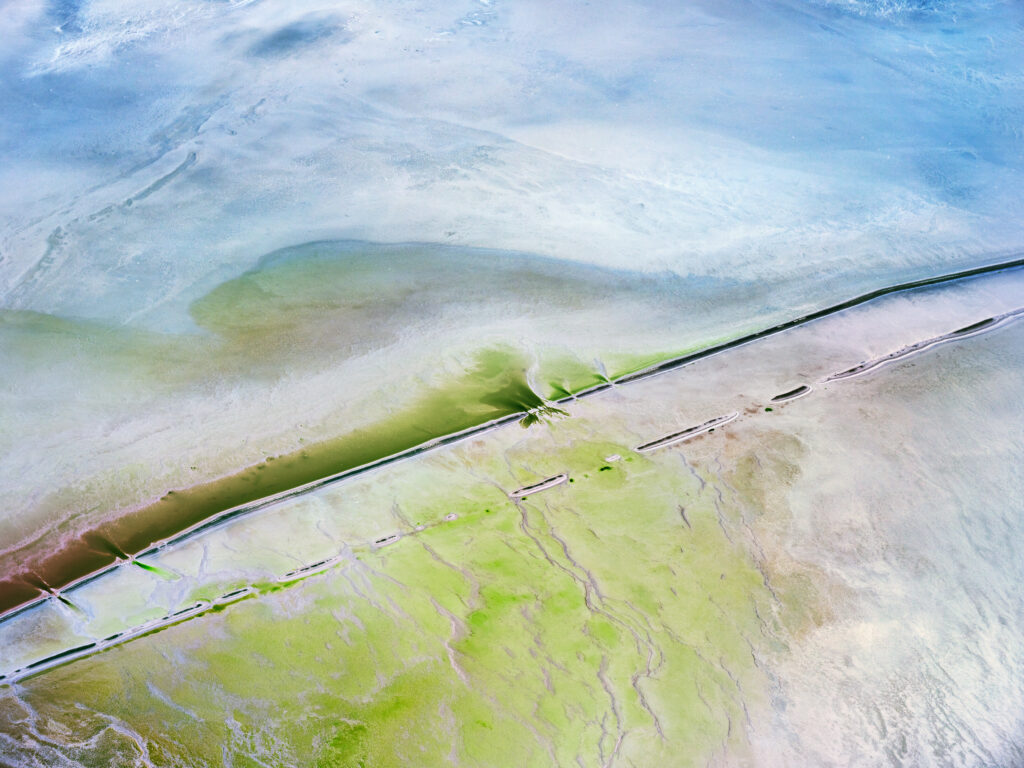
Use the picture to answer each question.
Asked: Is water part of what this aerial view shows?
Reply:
Yes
